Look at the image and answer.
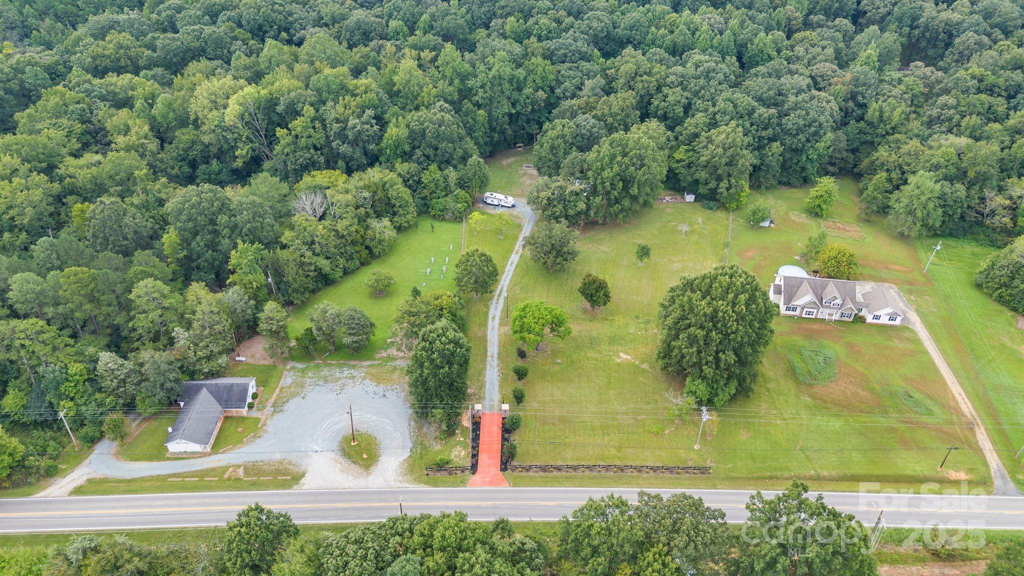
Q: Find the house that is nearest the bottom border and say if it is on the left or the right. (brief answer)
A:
left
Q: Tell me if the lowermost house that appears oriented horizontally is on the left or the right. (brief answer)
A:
right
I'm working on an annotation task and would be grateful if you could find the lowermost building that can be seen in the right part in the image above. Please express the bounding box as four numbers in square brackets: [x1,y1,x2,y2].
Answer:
[764,275,906,326]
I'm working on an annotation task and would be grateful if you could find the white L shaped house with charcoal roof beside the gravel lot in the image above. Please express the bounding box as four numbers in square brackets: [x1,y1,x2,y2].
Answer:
[161,376,260,451]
